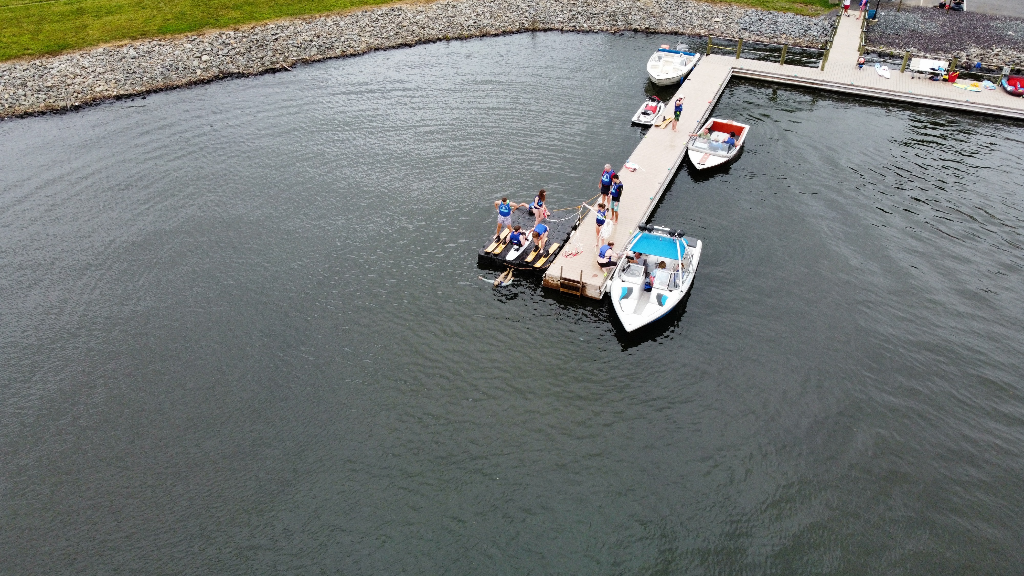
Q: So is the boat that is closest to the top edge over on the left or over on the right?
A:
right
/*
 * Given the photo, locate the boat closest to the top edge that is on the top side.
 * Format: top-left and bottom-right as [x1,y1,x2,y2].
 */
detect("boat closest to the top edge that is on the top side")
[645,36,699,86]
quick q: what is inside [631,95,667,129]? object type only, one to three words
boat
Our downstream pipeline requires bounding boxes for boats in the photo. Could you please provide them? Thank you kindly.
[611,221,702,338]
[688,119,751,172]
[645,36,699,86]
[631,95,667,129]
